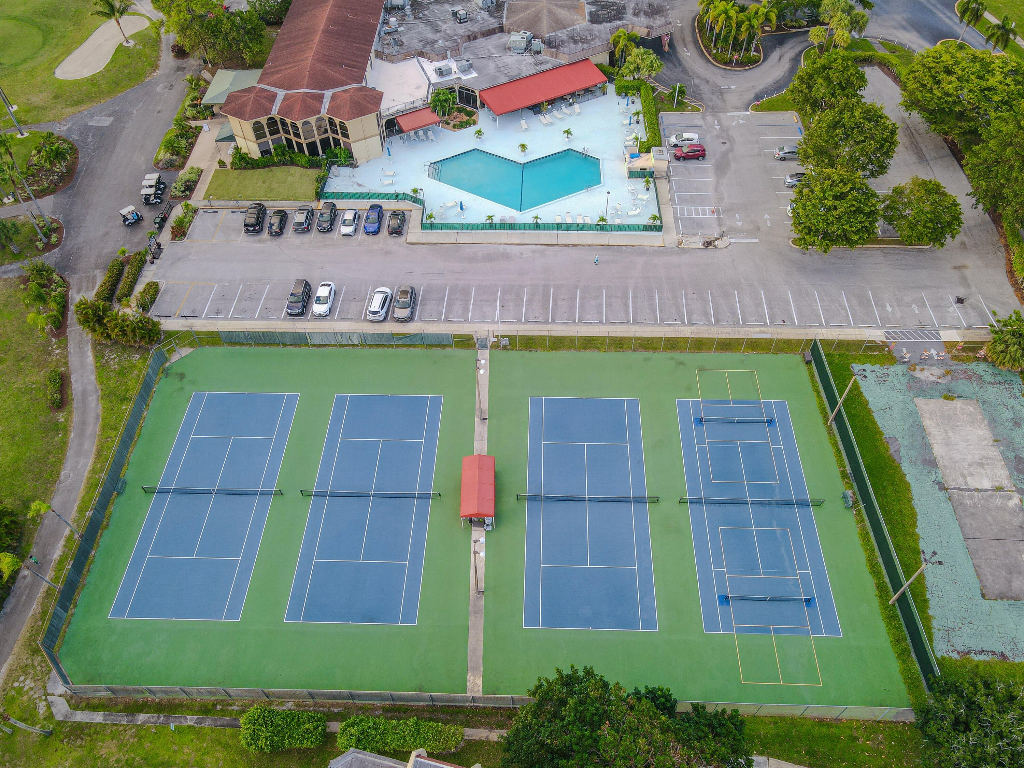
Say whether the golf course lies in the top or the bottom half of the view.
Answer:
top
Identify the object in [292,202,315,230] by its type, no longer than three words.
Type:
car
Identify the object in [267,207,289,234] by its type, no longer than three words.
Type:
car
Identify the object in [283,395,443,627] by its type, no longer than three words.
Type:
tennis court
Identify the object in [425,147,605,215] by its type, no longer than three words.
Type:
swimming pool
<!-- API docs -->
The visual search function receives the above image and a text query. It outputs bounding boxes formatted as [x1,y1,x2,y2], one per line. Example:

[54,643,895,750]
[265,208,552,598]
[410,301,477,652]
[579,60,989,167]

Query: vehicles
[292,202,315,230]
[669,131,702,147]
[285,275,311,313]
[674,143,708,161]
[312,281,336,315]
[315,199,337,229]
[243,203,268,231]
[783,170,810,186]
[387,208,406,234]
[267,207,289,234]
[363,204,383,233]
[392,283,415,320]
[142,179,163,195]
[140,188,162,206]
[365,285,390,320]
[339,207,360,235]
[145,173,166,189]
[773,144,811,160]
[118,205,142,226]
